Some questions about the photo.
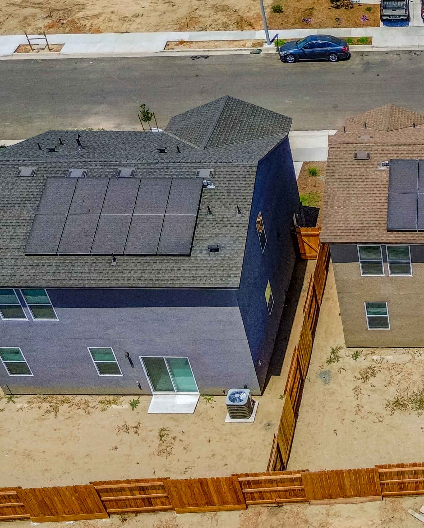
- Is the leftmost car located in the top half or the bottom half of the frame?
top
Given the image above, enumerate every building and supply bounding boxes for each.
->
[321,103,424,347]
[0,96,302,396]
